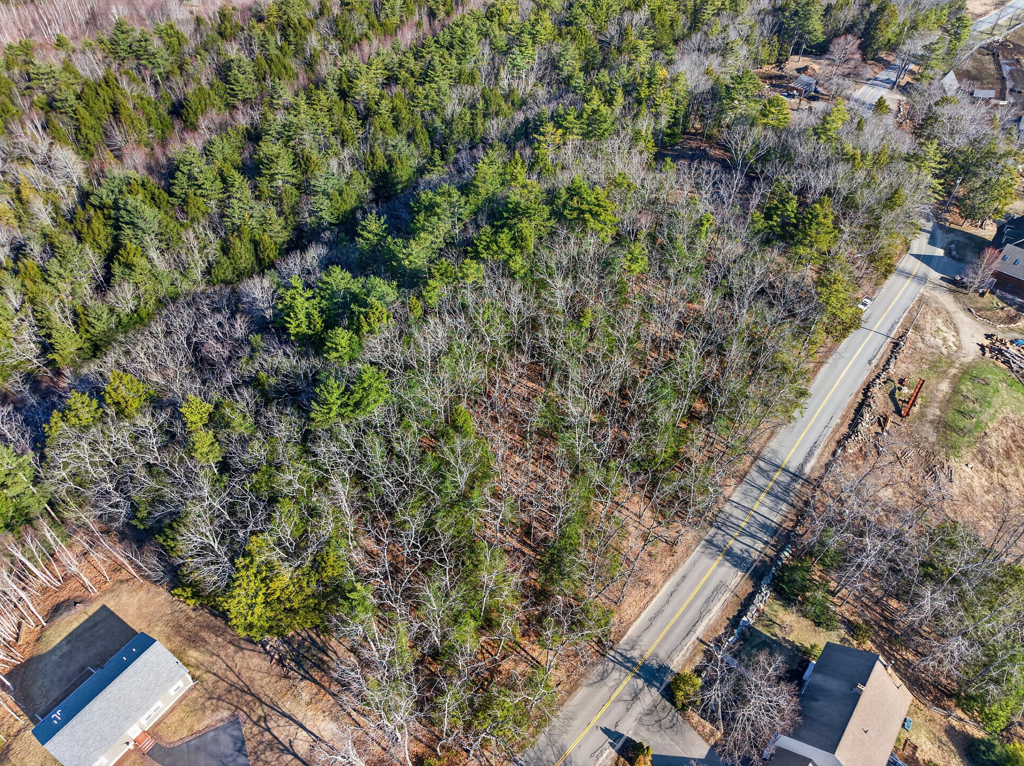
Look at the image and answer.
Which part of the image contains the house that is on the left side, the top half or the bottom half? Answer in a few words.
bottom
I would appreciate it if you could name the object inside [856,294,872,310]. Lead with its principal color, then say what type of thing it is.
white car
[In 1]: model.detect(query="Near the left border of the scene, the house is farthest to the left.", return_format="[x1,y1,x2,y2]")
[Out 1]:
[30,630,202,766]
